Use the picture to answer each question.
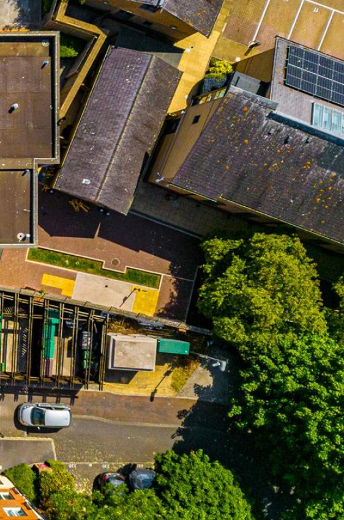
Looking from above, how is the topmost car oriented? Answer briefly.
from side to side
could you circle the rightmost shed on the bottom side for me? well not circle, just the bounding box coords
[100,334,157,372]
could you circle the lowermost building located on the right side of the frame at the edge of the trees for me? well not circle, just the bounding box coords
[146,34,344,255]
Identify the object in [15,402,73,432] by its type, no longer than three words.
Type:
car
